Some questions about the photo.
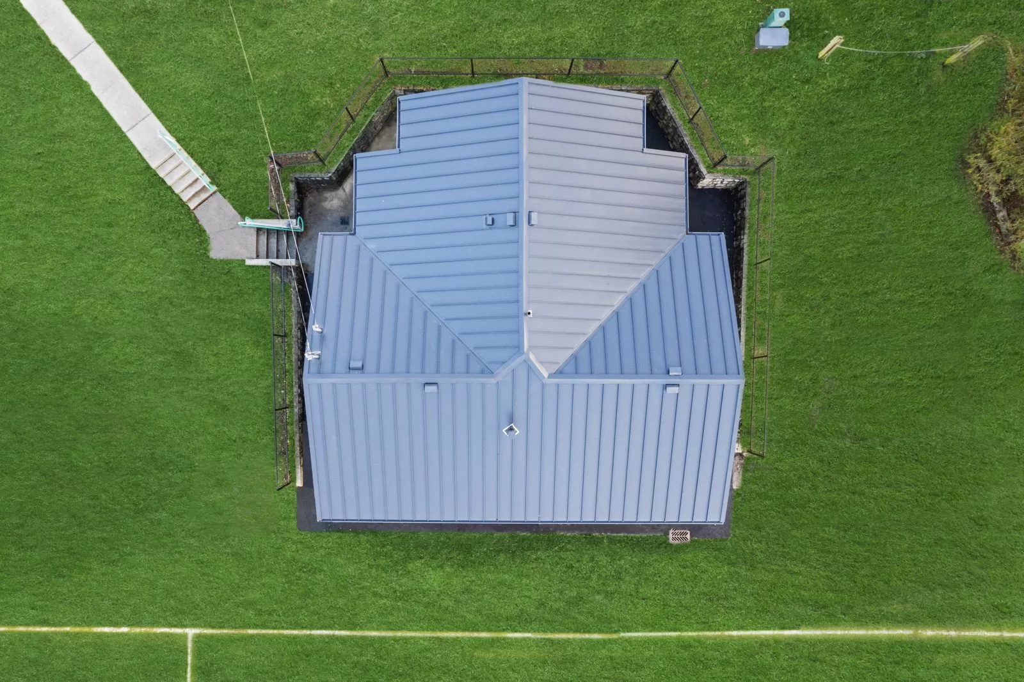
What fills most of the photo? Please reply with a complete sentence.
For the most part, this view shows grass.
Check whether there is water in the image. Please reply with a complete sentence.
No, the scene doesn't show any water.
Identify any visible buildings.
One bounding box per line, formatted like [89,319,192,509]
[303,77,745,526]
